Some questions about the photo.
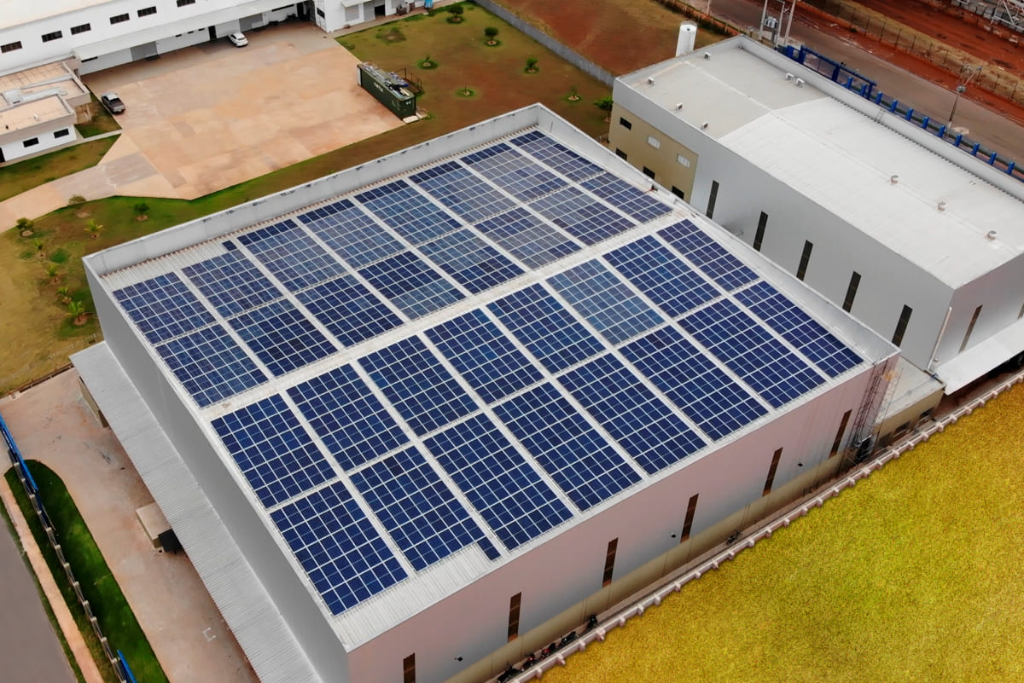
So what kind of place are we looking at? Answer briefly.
industrial area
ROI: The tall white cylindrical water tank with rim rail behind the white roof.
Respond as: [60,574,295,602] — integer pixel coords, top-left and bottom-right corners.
[674,19,699,57]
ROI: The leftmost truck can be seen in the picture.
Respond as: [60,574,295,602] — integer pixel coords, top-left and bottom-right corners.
[96,90,126,112]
